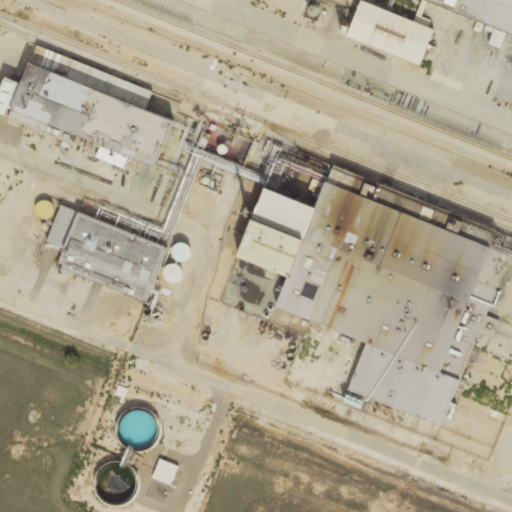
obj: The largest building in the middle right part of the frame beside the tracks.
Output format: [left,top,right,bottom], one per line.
[277,182,494,426]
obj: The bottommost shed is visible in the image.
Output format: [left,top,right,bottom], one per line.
[152,459,179,485]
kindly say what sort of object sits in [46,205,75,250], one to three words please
building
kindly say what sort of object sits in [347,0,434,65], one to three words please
building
